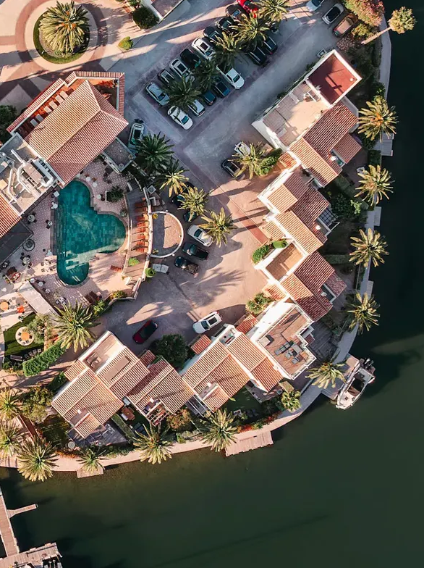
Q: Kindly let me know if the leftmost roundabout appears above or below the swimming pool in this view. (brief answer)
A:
above it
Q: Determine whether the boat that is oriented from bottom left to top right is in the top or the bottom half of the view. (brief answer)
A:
bottom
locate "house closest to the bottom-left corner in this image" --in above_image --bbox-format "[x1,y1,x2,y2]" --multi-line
[49,366,125,438]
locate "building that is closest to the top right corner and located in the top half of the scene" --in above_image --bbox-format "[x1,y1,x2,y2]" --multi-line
[245,49,365,189]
